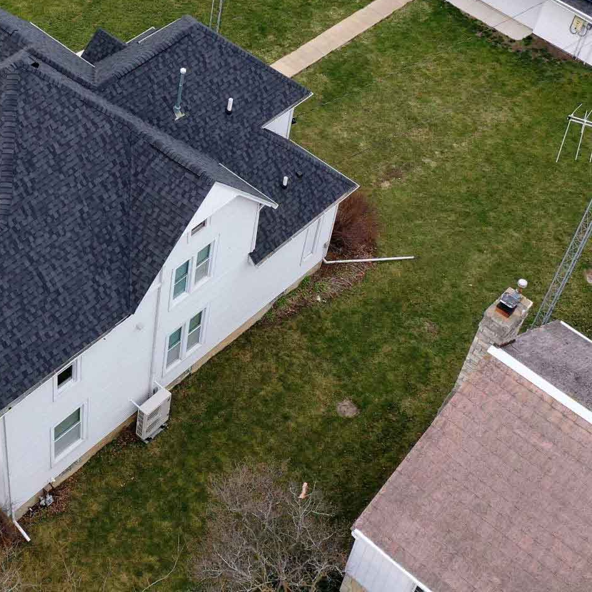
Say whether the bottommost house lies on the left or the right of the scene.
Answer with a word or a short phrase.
right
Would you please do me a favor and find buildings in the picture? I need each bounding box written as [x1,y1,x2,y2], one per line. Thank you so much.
[485,0,592,61]
[0,6,414,542]
[345,283,592,592]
